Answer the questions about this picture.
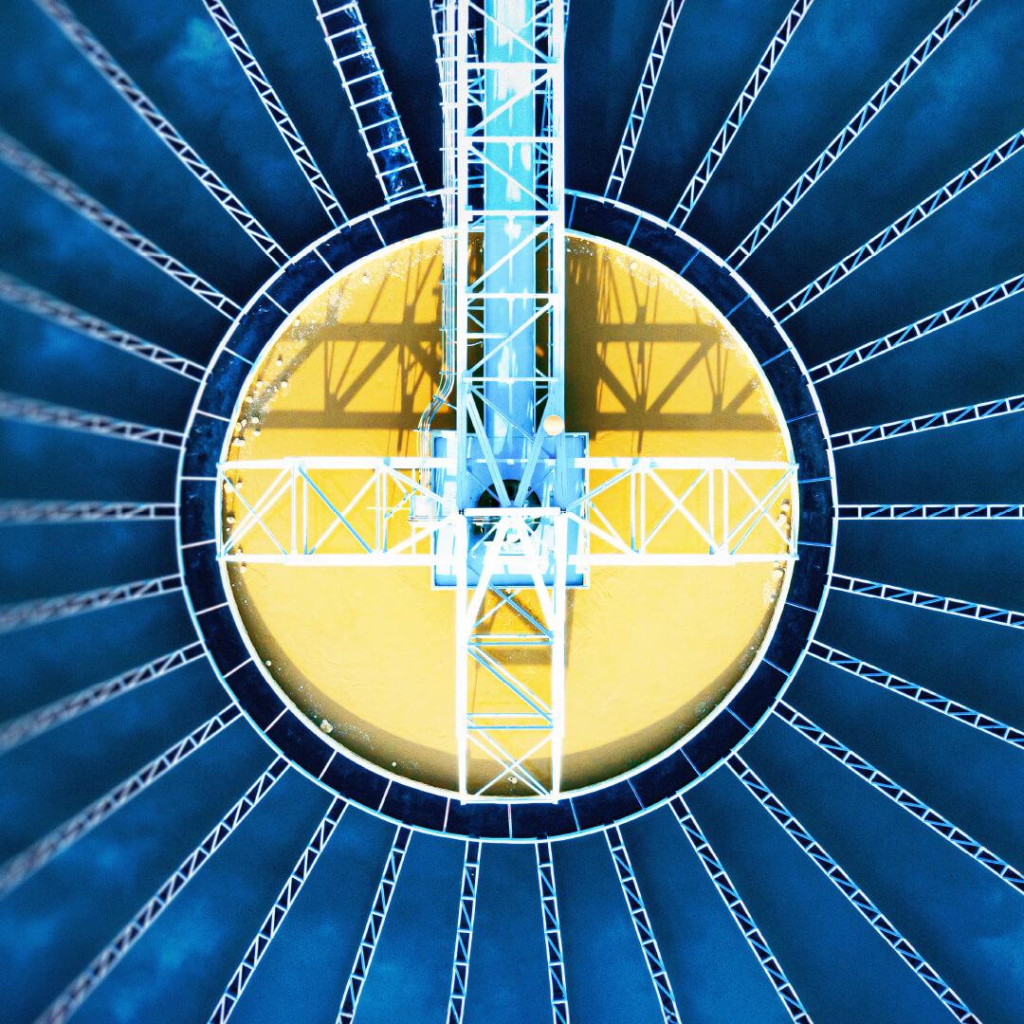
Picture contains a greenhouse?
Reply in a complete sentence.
No, I can't see a single greenhouse in this photo.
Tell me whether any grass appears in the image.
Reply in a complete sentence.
No, grass can't be seen anywhere here.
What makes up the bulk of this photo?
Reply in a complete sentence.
The largest share of the image is taken up by water.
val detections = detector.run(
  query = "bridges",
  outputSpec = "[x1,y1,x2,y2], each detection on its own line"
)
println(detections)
[457,0,568,510]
